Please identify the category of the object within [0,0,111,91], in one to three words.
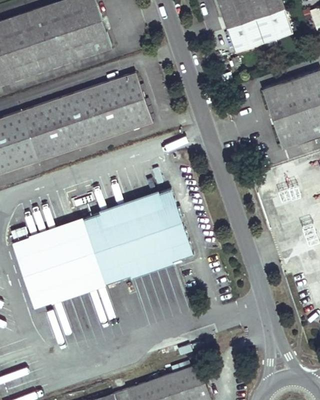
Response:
building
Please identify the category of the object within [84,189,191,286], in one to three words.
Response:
building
